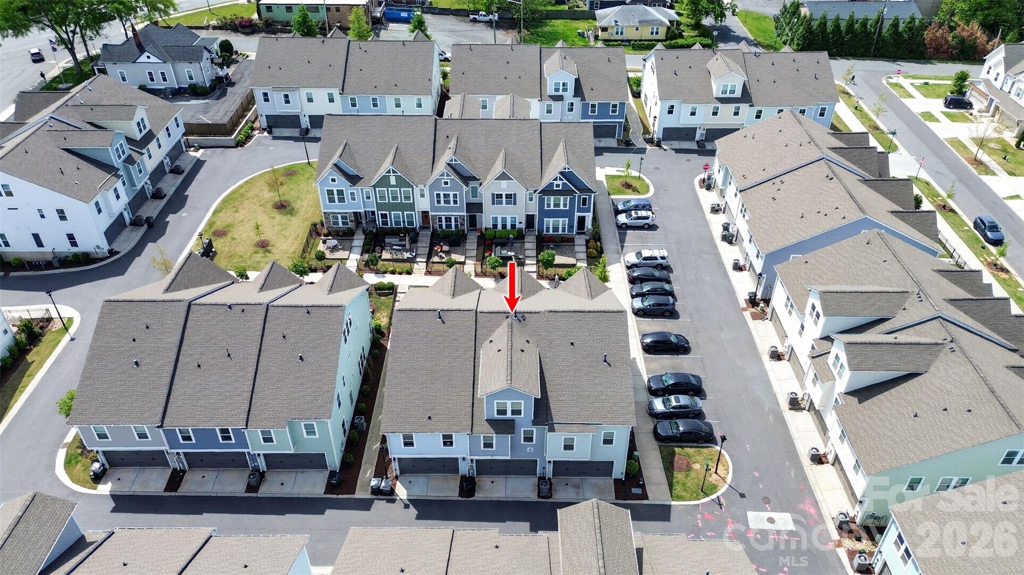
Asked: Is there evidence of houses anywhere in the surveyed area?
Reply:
Yes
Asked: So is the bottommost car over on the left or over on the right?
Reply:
right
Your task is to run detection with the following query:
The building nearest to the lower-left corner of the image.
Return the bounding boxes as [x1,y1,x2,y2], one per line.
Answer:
[0,485,111,575]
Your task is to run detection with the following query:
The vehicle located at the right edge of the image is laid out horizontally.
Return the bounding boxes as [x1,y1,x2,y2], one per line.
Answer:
[941,94,975,108]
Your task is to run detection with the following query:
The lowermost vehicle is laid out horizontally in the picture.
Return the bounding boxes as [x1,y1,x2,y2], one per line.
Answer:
[658,414,718,440]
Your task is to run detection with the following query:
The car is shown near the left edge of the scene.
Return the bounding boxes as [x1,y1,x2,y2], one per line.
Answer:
[28,47,50,61]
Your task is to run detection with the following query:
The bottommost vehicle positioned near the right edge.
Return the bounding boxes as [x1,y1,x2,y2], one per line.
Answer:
[976,217,1009,245]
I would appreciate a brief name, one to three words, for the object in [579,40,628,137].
house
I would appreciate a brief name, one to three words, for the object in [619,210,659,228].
car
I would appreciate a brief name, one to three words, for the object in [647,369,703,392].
car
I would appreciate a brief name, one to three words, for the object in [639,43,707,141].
house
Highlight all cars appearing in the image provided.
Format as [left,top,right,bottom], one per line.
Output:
[619,210,659,228]
[625,246,670,267]
[28,47,50,61]
[616,198,655,215]
[650,390,708,415]
[627,264,672,282]
[976,217,1009,245]
[439,50,451,61]
[630,279,677,298]
[941,94,975,108]
[647,369,703,392]
[658,414,718,440]
[633,293,680,316]
[640,329,692,351]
